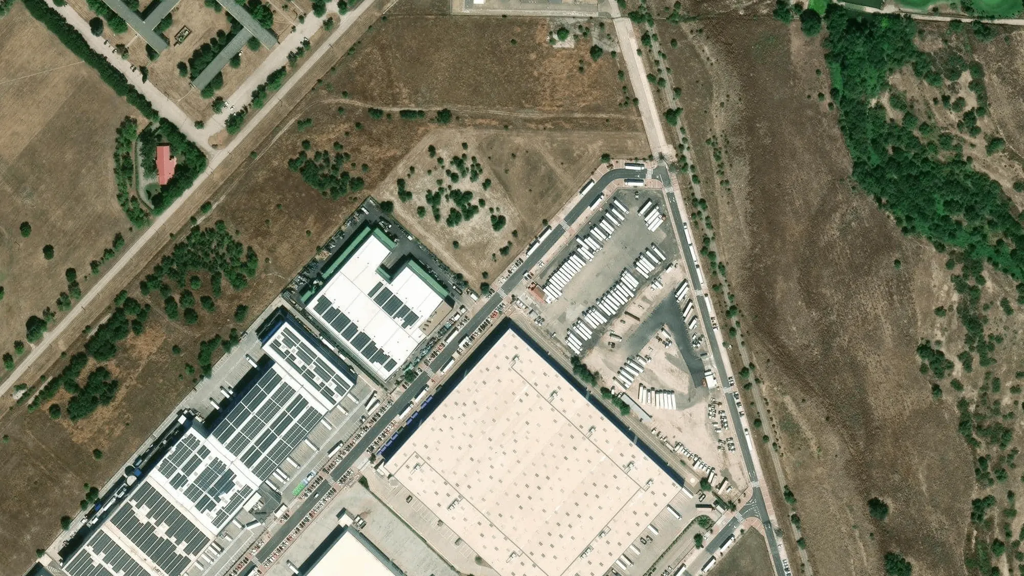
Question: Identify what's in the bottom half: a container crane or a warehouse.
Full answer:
Visible in the bottom half is a warehouse.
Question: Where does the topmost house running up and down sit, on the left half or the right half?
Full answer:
It is on the left.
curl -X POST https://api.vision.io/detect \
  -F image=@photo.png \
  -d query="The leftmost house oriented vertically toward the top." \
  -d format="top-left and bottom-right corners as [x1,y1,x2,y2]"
[156,143,176,186]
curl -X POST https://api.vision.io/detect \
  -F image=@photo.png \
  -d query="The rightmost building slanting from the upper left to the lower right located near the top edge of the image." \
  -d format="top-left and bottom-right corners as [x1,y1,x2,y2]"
[217,0,281,50]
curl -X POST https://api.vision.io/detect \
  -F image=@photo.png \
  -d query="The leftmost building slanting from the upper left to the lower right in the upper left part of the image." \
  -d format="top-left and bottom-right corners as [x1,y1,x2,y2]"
[104,0,169,53]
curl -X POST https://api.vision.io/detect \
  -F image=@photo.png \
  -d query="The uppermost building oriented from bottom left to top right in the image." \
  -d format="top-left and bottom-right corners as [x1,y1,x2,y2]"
[145,0,182,30]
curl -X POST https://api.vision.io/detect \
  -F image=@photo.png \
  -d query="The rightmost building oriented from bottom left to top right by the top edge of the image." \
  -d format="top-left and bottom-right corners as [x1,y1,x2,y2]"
[192,26,252,90]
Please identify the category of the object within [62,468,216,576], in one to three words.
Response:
building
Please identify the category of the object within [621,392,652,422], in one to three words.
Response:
shed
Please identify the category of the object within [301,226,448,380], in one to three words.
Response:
warehouse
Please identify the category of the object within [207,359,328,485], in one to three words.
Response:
warehouse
